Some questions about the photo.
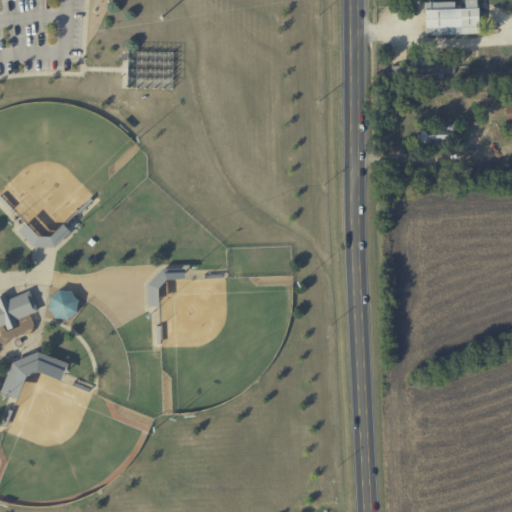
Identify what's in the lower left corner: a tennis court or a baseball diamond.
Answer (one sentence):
The one visible in the lower left corner is a baseball diamond.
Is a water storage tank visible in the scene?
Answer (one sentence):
No, the photo shows no water storage tank.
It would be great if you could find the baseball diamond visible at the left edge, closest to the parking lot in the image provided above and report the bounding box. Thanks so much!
[0,102,141,236]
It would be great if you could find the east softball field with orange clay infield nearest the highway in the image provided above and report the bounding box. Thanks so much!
[160,247,293,414]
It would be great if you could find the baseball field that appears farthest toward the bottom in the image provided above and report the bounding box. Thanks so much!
[0,372,153,506]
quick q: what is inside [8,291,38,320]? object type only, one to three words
building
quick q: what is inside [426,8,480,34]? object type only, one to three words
barn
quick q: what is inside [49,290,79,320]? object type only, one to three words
gazebo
